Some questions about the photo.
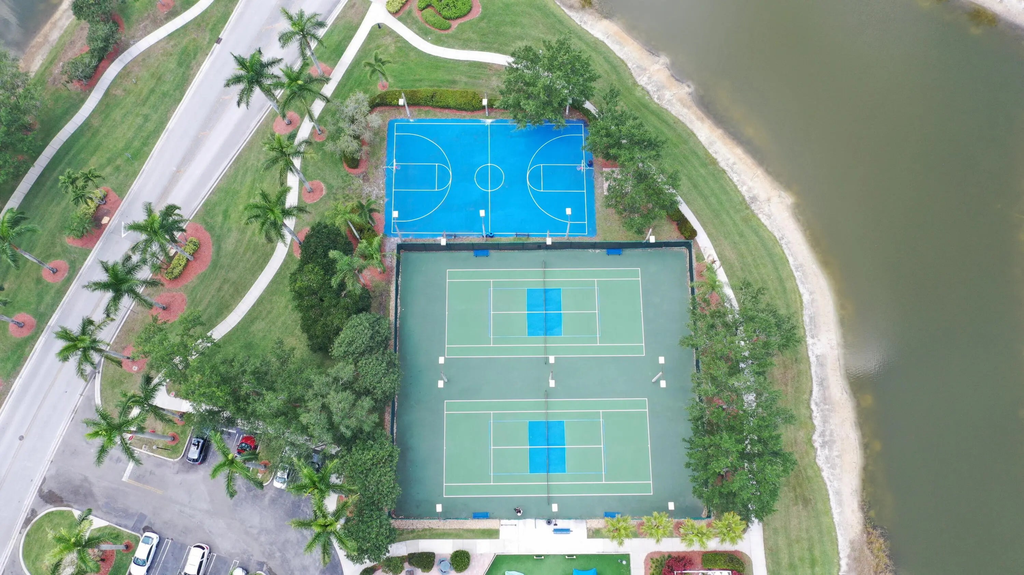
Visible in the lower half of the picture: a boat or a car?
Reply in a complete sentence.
Visible in the lower half of the picture is a car.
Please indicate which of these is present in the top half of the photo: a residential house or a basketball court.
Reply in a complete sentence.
The one visible in the top half of the photo is a basketball court.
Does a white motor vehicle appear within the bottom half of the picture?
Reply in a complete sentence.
Yes, there is a white motor vehicle within the bottom half of the picture.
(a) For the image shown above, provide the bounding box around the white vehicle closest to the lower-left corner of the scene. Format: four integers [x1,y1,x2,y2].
[129,531,159,575]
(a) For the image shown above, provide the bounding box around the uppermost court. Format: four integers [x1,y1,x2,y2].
[383,116,596,238]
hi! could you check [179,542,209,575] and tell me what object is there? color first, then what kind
white car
